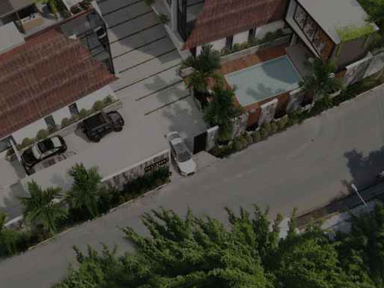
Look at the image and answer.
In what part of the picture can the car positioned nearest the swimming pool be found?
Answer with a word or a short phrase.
center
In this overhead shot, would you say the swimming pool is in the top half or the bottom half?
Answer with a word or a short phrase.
top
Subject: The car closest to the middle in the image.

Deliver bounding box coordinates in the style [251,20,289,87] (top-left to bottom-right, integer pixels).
[166,124,203,178]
